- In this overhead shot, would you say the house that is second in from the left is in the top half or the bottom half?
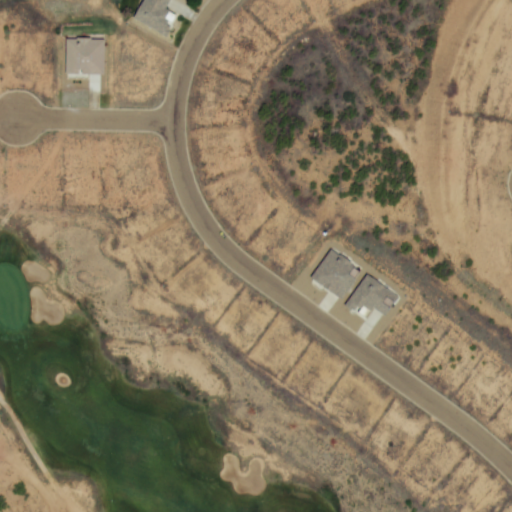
top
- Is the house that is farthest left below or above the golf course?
above it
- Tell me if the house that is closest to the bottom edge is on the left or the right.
right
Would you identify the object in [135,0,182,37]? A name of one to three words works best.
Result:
house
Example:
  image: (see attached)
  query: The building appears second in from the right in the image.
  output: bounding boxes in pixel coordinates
[310,248,361,298]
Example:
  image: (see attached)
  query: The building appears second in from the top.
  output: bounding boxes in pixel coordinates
[66,36,104,78]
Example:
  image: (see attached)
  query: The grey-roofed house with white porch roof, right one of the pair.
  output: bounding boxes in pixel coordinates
[346,274,398,320]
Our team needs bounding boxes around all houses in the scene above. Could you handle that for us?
[310,248,361,298]
[66,36,104,78]
[135,0,182,37]
[346,274,398,320]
